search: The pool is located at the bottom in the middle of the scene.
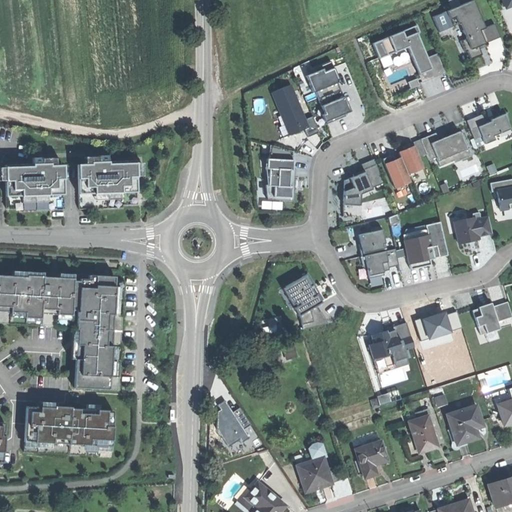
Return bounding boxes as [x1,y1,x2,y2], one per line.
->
[224,483,241,499]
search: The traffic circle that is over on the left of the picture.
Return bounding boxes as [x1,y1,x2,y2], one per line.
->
[160,206,234,280]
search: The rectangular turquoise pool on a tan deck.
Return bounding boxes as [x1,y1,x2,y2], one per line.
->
[386,68,409,84]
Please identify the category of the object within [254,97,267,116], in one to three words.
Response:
swimming pool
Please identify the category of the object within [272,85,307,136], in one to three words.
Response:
house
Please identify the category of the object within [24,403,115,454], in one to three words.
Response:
building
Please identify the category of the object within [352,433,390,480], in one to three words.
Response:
house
